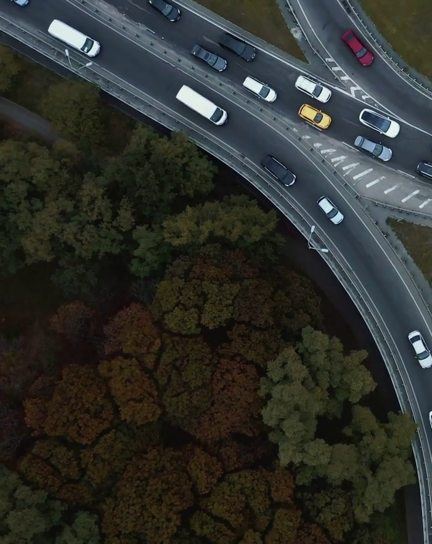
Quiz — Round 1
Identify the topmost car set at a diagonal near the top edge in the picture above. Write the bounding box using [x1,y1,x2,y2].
[147,0,183,23]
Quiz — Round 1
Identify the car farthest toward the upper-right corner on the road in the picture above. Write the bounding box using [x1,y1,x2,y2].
[342,31,374,68]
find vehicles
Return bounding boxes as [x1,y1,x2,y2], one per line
[342,31,374,68]
[173,84,230,127]
[315,195,345,225]
[297,103,333,132]
[10,0,31,8]
[46,18,104,59]
[359,109,400,139]
[147,0,183,23]
[218,33,258,62]
[416,161,432,180]
[191,44,229,73]
[353,134,393,163]
[240,75,278,104]
[408,330,432,368]
[293,75,333,104]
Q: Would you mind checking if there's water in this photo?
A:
No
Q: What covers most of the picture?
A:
trees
